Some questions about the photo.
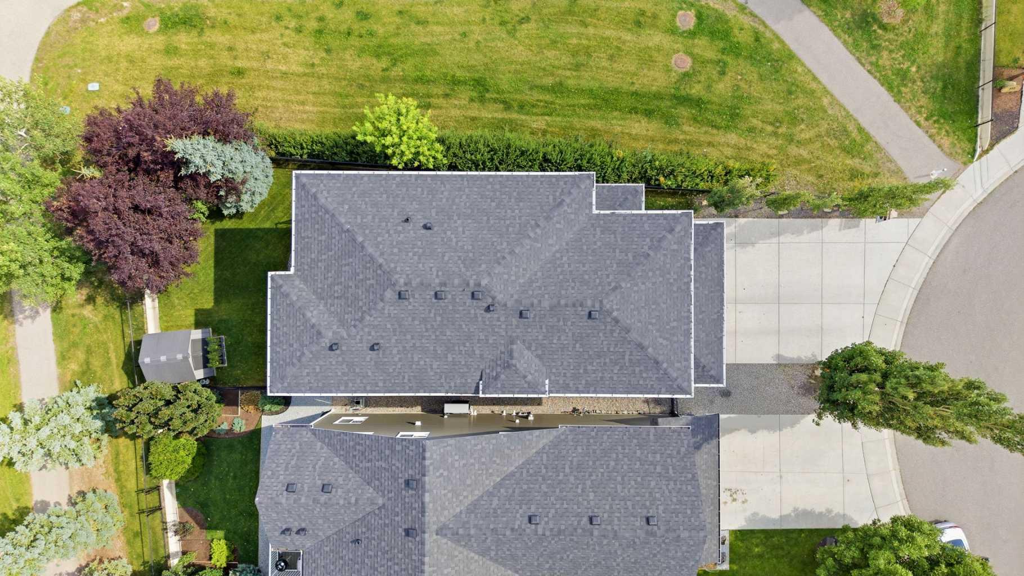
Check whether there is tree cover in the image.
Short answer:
Yes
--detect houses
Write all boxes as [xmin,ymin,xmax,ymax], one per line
[256,410,720,576]
[267,171,725,398]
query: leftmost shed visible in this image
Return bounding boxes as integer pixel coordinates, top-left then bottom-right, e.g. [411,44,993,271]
[139,329,218,385]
